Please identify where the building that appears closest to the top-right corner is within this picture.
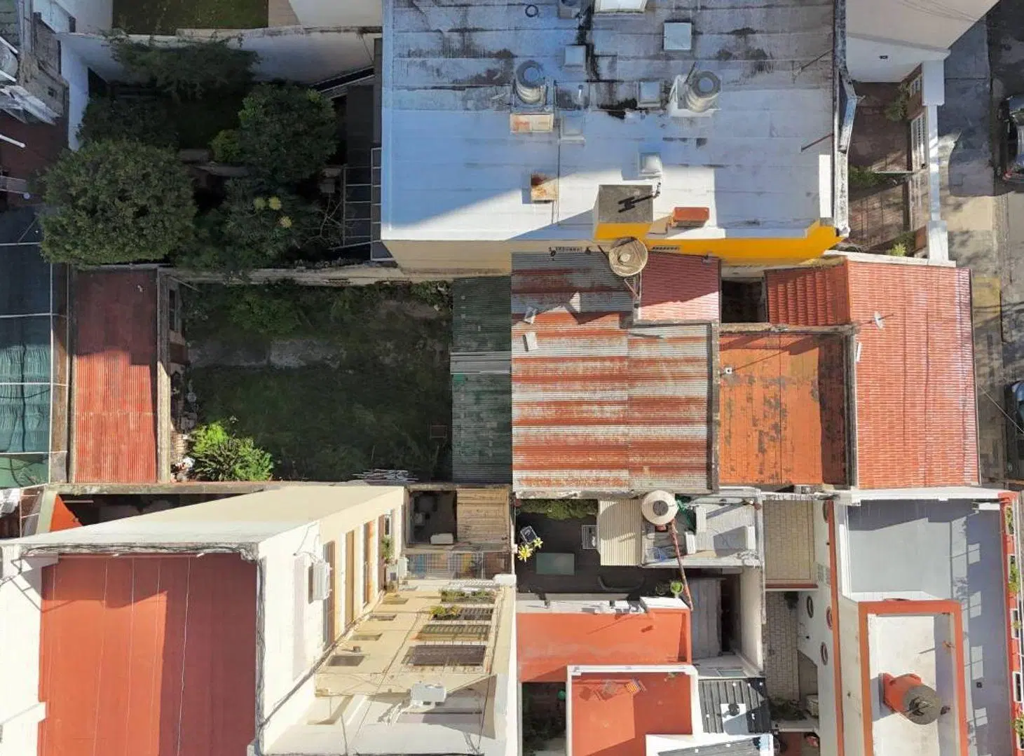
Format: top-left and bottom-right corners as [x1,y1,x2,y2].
[847,0,980,78]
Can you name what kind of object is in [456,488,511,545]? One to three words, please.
shed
